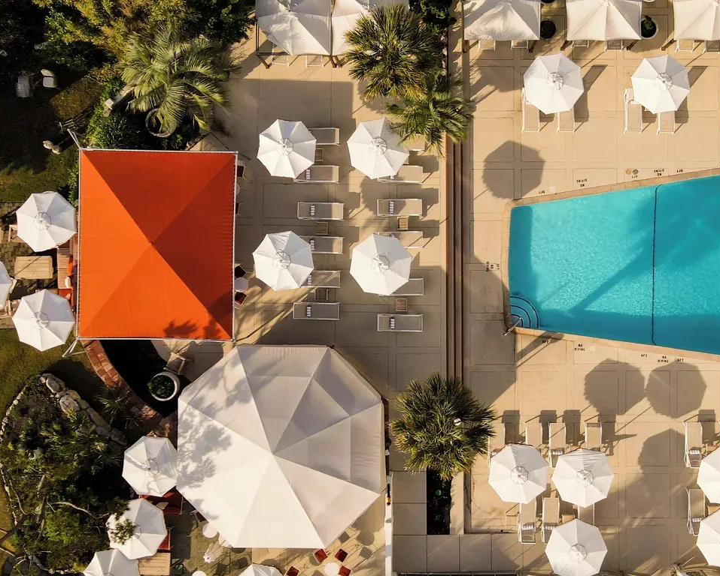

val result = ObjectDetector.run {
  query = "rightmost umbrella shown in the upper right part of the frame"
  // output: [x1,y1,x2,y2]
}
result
[632,55,689,113]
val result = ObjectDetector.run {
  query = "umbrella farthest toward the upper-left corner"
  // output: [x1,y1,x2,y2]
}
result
[19,189,81,251]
